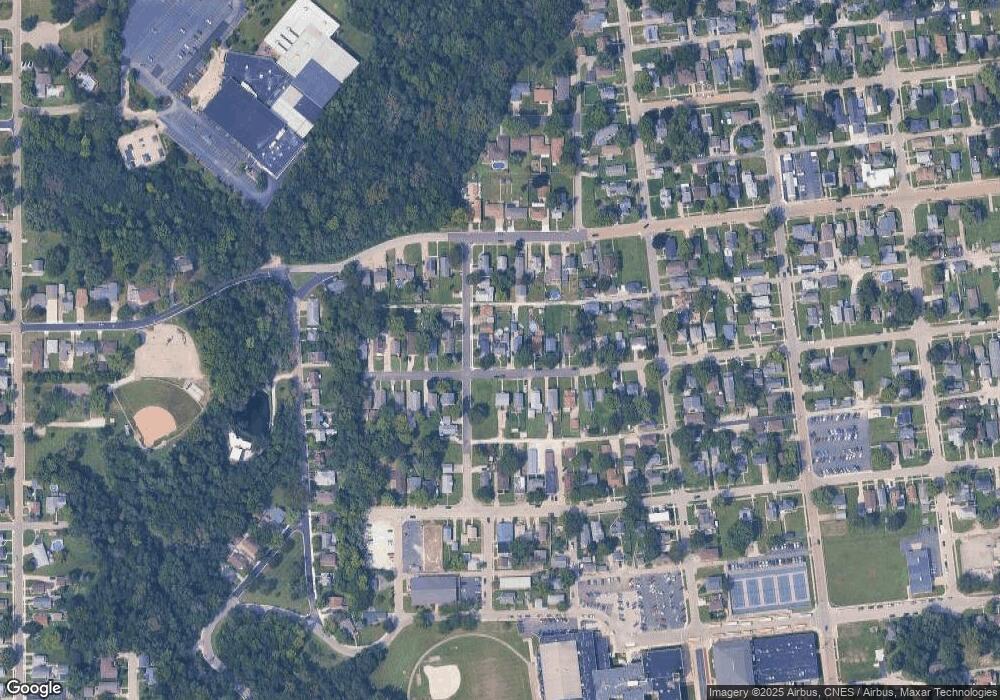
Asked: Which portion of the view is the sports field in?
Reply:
bottom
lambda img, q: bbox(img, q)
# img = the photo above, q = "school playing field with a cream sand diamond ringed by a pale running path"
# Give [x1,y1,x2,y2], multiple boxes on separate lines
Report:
[411,638,532,700]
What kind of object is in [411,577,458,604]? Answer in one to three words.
building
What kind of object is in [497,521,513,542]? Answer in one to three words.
house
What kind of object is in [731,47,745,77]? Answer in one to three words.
house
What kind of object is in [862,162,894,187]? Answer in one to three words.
building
